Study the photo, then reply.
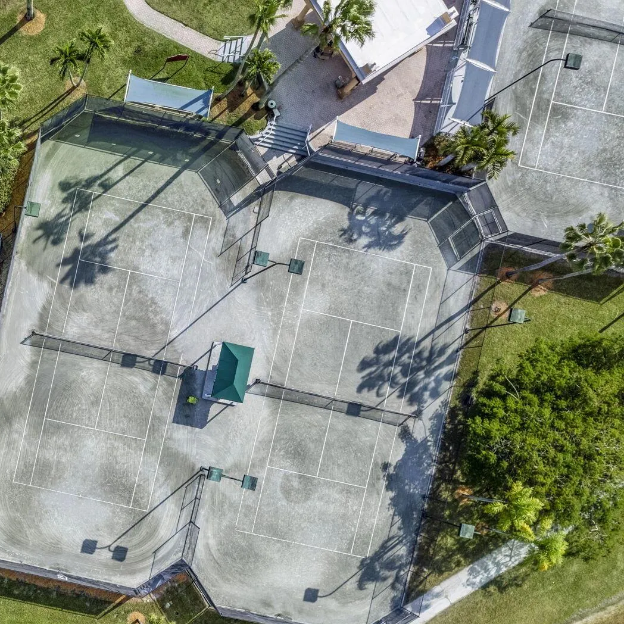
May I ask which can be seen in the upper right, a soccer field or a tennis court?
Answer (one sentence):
The one visible in the upper right is a tennis court.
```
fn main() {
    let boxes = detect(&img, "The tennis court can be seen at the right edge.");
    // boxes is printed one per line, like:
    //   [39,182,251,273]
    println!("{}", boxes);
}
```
[468,0,624,256]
